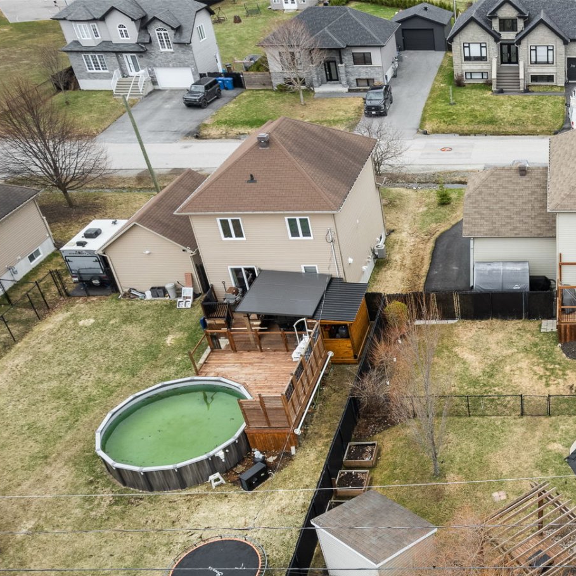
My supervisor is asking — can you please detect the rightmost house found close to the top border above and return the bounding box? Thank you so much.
[447,0,576,94]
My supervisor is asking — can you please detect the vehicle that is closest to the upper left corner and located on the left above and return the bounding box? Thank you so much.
[179,78,223,107]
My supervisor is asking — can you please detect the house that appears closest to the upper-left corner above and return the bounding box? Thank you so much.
[55,0,226,97]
